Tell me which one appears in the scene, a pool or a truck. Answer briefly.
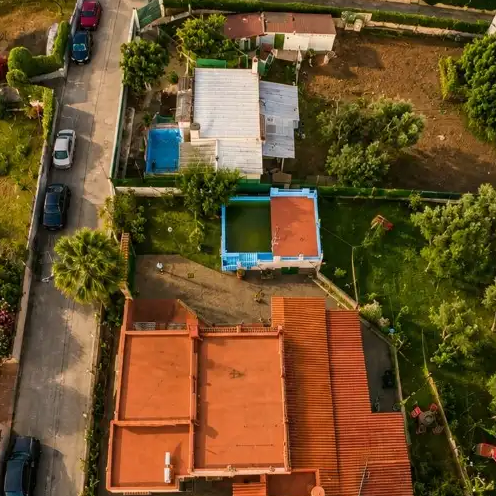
pool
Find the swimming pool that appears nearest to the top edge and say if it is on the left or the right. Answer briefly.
left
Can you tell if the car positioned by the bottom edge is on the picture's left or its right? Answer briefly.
left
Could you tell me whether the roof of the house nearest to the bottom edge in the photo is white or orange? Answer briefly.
orange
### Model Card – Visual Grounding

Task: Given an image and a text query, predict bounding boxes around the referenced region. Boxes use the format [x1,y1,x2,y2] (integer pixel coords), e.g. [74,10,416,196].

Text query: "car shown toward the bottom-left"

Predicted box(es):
[5,442,39,496]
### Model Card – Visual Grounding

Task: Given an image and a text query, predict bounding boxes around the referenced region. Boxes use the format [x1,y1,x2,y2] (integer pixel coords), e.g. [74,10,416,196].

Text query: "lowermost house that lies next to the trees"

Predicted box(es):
[107,297,413,496]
